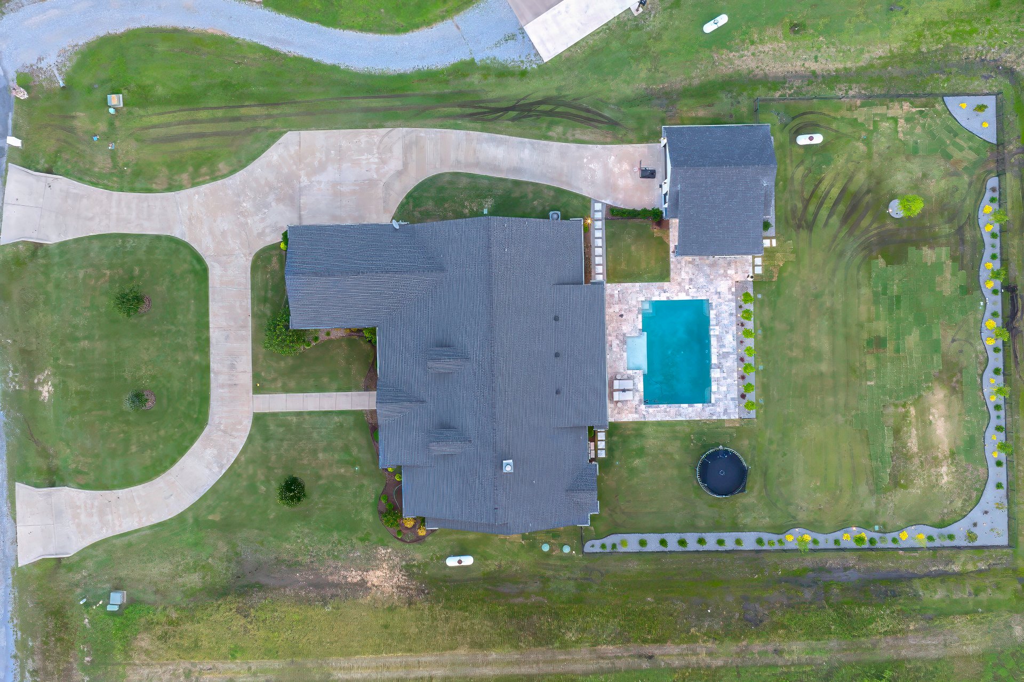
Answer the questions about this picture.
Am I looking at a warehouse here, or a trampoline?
trampoline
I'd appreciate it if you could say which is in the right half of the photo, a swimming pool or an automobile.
swimming pool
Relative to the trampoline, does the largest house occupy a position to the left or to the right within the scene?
on the left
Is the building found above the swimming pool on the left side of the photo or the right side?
right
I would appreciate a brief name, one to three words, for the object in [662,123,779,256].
building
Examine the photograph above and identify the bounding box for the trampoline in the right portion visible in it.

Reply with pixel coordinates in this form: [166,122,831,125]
[696,445,751,497]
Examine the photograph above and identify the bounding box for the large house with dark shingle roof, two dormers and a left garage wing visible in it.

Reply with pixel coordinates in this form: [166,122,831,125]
[285,216,609,535]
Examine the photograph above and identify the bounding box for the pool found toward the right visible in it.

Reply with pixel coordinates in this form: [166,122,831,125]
[627,299,710,405]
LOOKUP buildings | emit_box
[285,216,609,535]
[662,123,779,256]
